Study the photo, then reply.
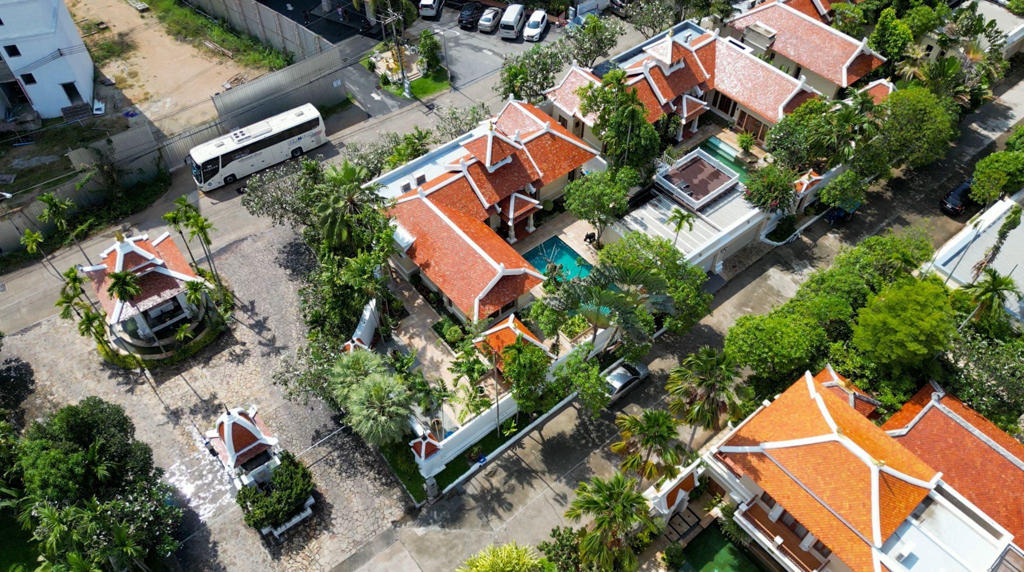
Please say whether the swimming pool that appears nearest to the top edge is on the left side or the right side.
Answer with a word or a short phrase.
right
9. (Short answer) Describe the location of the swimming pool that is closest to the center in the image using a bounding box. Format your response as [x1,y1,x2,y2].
[521,232,618,319]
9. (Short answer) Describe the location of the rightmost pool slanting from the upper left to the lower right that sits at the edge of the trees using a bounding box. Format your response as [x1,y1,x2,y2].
[690,135,764,191]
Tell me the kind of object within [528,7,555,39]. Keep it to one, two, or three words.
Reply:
car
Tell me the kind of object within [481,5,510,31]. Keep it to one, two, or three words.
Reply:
car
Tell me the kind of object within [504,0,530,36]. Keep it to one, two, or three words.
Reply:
vehicle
